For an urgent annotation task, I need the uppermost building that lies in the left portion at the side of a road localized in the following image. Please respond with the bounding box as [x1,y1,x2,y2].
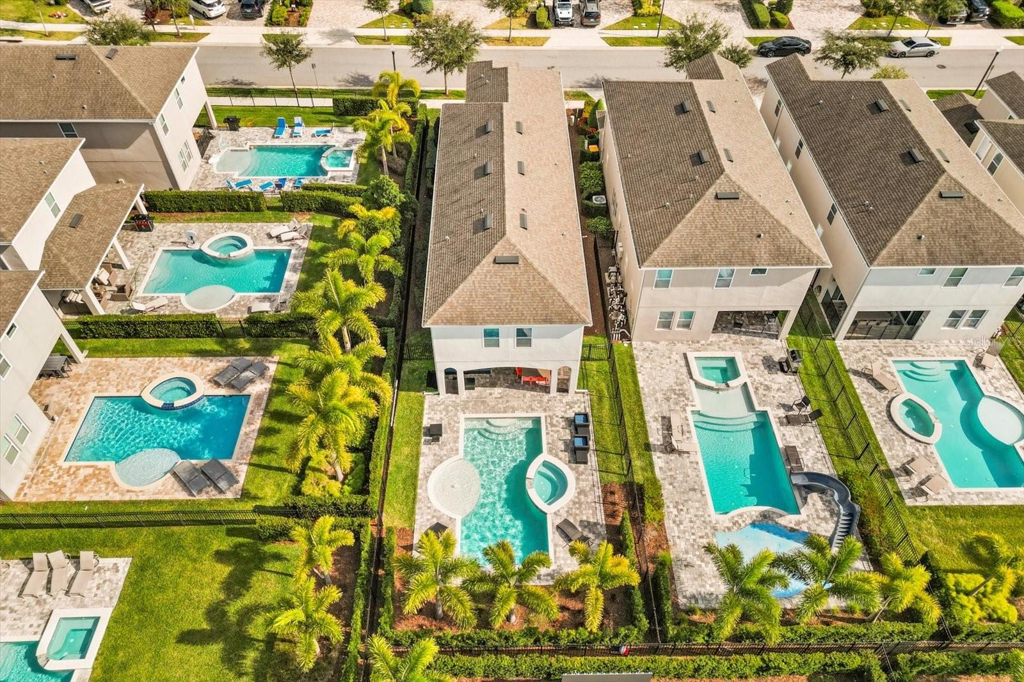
[0,46,218,190]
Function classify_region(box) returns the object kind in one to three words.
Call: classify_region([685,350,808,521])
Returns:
swimming pool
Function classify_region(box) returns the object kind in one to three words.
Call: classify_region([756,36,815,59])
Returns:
car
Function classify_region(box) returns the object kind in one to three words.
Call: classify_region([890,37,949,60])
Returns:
car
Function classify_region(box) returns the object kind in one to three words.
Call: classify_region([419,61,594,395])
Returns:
house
